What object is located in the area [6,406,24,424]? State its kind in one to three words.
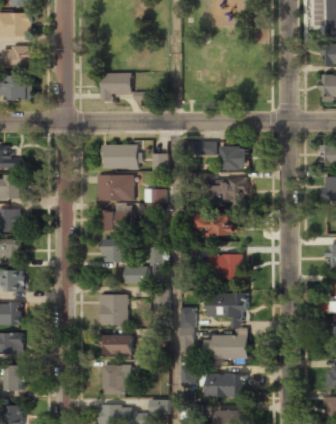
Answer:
house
